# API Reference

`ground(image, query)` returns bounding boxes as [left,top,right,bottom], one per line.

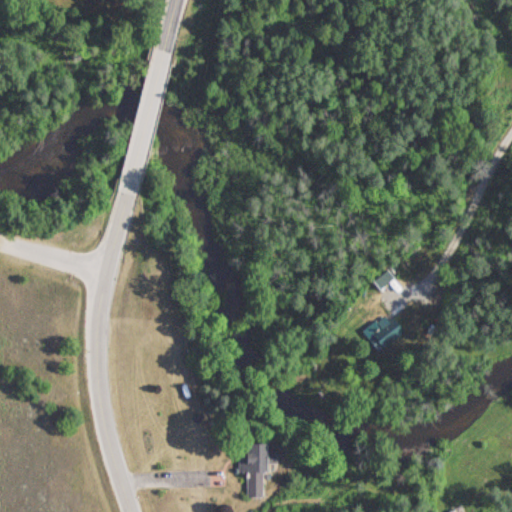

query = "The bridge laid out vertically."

[118,48,174,196]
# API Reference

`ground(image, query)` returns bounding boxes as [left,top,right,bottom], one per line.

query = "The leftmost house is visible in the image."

[238,444,279,498]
